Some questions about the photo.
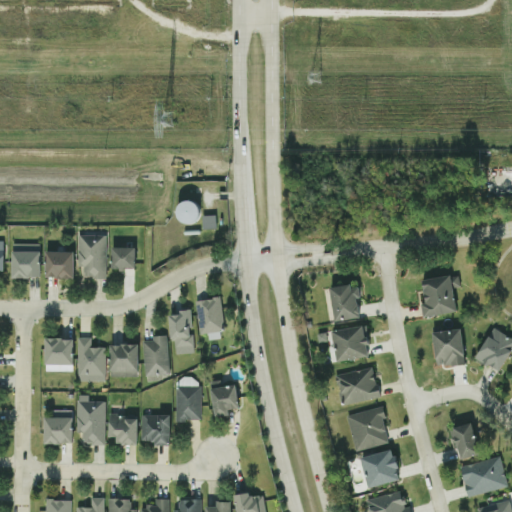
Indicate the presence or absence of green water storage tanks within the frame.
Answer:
No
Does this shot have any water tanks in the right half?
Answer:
No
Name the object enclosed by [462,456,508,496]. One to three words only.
house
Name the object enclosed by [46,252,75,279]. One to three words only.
house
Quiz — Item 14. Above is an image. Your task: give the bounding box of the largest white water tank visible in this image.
[174,198,203,226]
